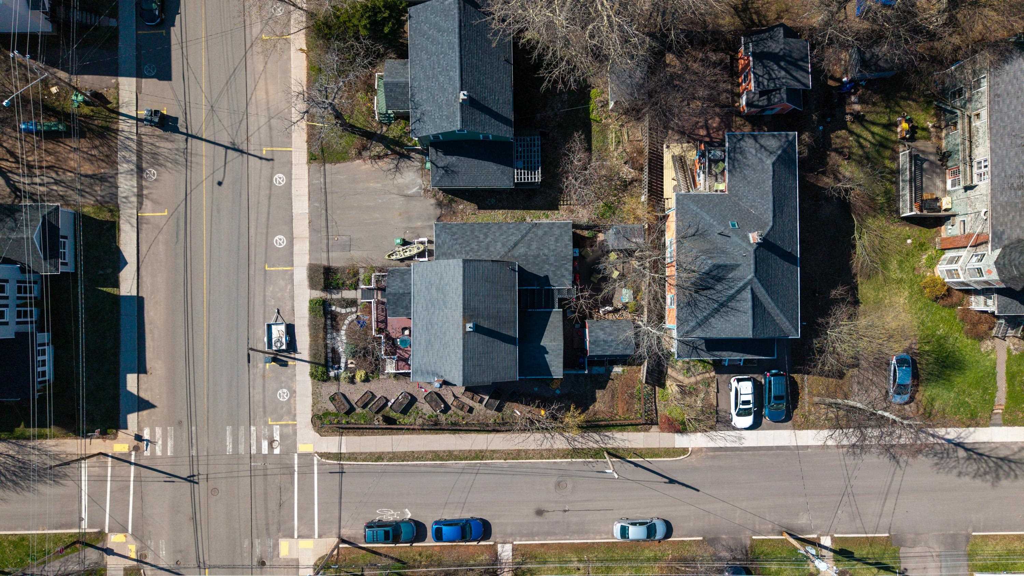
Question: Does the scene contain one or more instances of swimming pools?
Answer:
No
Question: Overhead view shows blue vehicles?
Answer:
Yes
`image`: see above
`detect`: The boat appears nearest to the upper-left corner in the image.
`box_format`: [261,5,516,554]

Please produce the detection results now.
[387,242,427,260]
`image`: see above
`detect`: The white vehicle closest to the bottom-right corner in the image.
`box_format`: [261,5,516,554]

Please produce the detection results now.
[730,374,759,430]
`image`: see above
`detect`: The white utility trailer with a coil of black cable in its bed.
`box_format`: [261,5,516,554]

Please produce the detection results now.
[261,308,288,349]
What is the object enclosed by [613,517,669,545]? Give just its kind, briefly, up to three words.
car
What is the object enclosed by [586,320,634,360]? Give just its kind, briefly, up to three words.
shed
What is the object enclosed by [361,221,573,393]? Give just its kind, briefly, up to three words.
house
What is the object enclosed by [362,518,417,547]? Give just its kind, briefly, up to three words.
car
